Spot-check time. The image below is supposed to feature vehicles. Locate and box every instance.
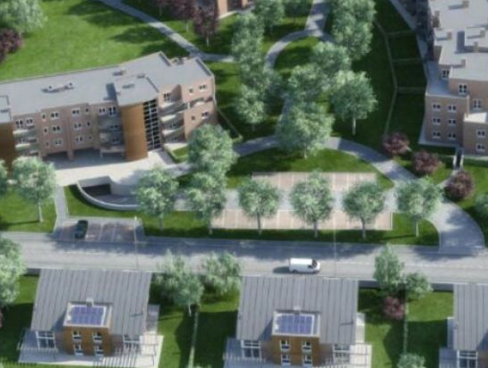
[290,256,321,276]
[76,219,88,237]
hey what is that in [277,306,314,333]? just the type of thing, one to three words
solar panel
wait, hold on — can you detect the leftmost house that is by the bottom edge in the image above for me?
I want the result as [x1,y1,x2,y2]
[30,267,150,353]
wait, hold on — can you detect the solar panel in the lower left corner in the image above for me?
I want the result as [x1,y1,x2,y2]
[67,297,106,323]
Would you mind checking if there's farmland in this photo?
No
